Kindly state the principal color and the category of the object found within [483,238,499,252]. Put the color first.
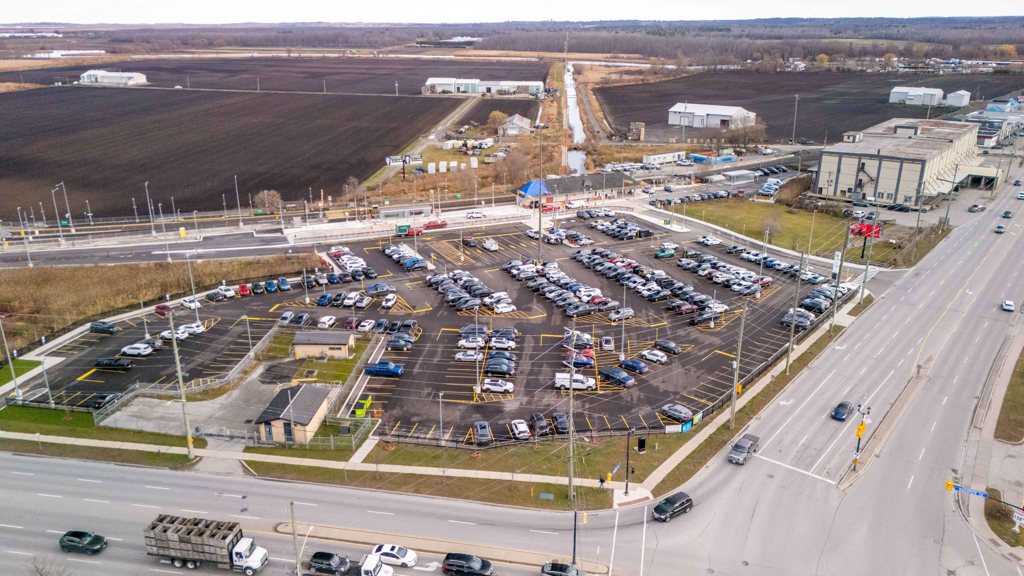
white vehicle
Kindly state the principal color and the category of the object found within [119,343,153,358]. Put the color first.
white car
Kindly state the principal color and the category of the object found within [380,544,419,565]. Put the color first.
white car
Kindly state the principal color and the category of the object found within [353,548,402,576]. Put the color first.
white truck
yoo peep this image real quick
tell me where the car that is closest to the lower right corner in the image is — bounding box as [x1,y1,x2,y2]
[830,402,855,423]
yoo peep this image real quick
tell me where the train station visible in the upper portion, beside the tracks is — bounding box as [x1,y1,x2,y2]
[510,172,649,208]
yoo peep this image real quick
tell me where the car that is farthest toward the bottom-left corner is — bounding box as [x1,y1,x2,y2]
[57,532,109,558]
